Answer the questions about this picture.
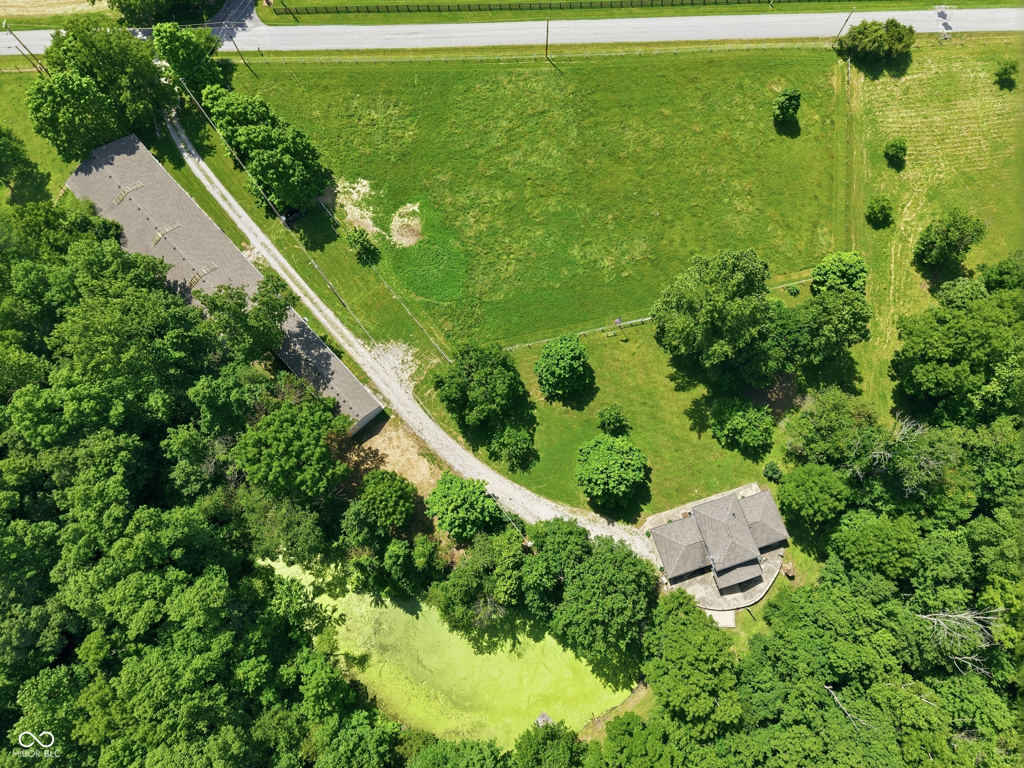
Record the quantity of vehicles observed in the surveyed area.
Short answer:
1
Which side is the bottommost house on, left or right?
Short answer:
right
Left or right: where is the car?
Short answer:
left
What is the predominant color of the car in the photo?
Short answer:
black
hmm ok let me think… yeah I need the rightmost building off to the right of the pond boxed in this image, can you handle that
[649,489,789,590]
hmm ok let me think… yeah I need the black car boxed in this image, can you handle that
[278,207,305,227]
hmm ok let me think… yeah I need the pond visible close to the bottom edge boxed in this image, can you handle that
[256,555,639,760]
